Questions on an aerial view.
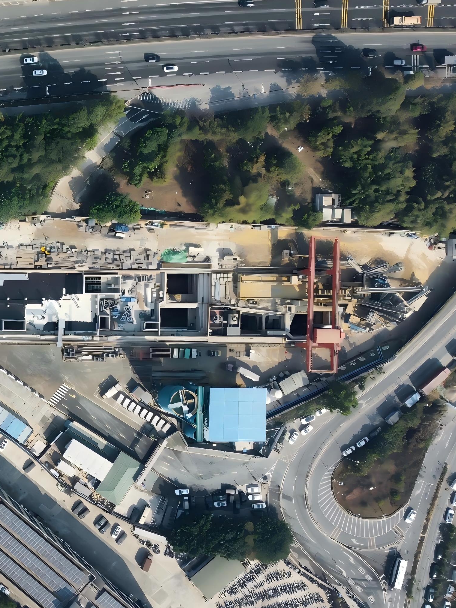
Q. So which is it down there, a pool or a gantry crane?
gantry crane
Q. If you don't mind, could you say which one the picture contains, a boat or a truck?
truck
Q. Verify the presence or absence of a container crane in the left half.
No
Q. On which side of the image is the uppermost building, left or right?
right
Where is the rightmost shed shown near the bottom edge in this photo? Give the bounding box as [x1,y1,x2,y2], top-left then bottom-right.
[193,551,254,601]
